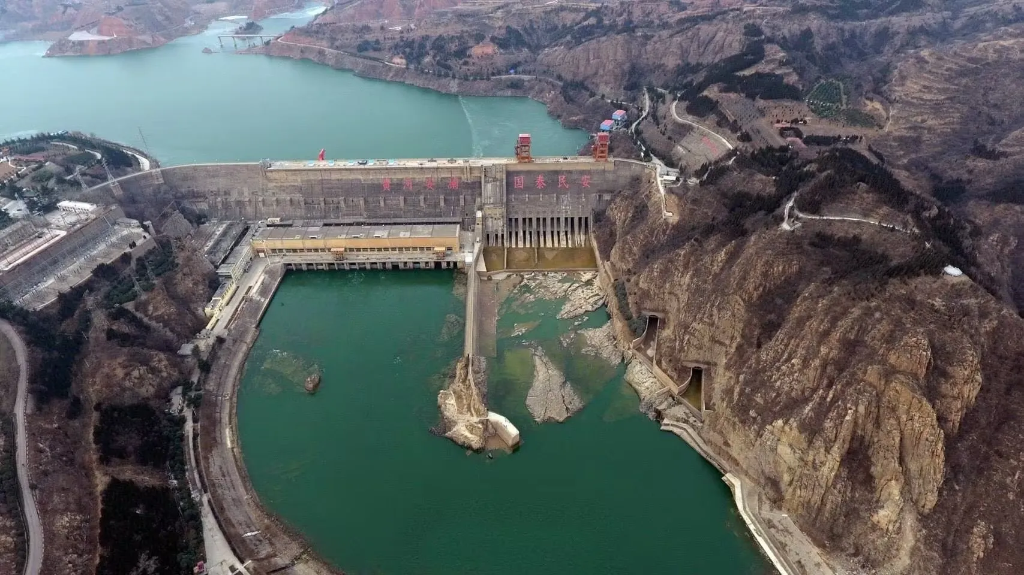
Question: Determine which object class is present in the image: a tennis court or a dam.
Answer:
dam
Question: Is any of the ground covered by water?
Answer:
Yes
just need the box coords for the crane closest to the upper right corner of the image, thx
[592,132,611,161]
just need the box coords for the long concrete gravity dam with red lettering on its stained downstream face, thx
[74,154,660,248]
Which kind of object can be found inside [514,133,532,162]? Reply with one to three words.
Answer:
container crane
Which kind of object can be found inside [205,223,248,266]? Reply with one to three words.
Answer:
building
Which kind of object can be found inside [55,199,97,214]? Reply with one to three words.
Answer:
building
